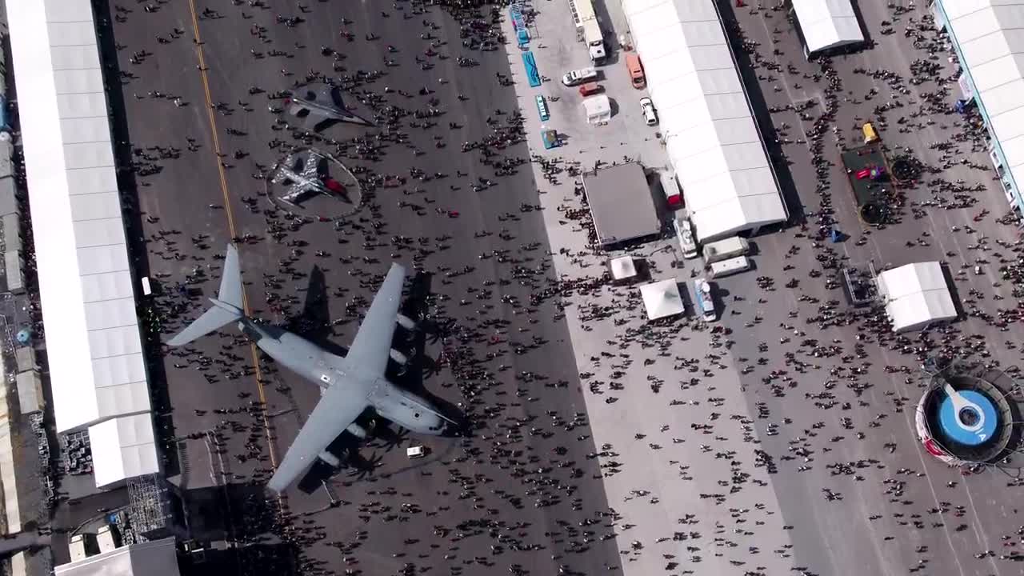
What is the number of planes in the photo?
3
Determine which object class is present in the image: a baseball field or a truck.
truck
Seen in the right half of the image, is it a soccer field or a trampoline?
trampoline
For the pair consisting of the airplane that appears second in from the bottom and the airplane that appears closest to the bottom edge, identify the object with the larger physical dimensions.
the airplane that appears closest to the bottom edge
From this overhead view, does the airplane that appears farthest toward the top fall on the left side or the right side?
left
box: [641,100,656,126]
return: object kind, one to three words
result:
car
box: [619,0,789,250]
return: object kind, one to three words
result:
tent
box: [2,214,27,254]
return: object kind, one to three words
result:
building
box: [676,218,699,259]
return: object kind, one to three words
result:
truck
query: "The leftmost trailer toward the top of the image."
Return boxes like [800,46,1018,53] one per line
[503,0,531,52]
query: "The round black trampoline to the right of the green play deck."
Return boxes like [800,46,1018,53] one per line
[892,158,916,181]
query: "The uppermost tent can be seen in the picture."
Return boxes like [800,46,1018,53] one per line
[786,0,865,60]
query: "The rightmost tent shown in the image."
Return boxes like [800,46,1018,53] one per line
[924,0,1024,250]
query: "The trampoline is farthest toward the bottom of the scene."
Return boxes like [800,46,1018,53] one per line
[862,202,885,224]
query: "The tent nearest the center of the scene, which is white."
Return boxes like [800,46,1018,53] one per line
[609,256,637,285]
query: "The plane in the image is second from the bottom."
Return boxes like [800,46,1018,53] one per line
[271,154,353,207]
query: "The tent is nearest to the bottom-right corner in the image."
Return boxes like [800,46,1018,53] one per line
[876,261,957,335]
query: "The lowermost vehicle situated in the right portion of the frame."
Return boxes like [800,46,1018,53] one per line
[691,279,716,324]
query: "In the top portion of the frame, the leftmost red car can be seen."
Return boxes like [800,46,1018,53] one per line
[579,82,600,97]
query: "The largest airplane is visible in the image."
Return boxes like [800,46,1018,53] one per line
[167,245,461,491]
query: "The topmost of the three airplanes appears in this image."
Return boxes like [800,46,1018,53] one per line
[291,83,369,132]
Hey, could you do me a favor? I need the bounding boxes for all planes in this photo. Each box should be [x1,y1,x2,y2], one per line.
[291,83,369,132]
[167,245,461,491]
[271,154,353,207]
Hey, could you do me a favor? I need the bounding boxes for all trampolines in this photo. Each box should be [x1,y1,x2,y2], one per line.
[862,202,885,224]
[892,158,916,181]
